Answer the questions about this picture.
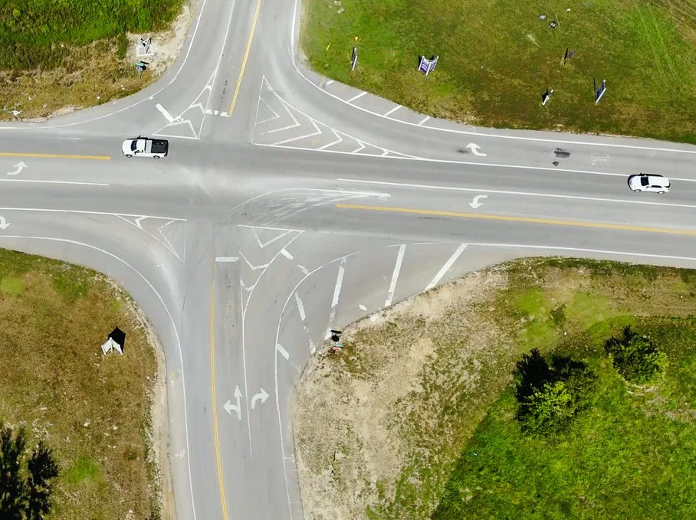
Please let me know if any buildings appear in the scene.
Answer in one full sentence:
No, the frame has no building in it.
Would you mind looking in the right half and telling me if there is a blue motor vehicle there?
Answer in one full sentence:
No, I see no blue motor vehicle in the right half.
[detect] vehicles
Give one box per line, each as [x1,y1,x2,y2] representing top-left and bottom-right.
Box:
[120,135,173,159]
[629,173,674,195]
